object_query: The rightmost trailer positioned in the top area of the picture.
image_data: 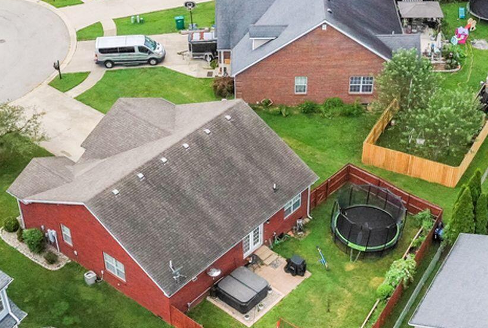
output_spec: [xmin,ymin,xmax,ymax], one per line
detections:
[174,37,222,62]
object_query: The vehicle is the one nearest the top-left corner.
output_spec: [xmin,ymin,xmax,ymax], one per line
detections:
[93,38,165,72]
